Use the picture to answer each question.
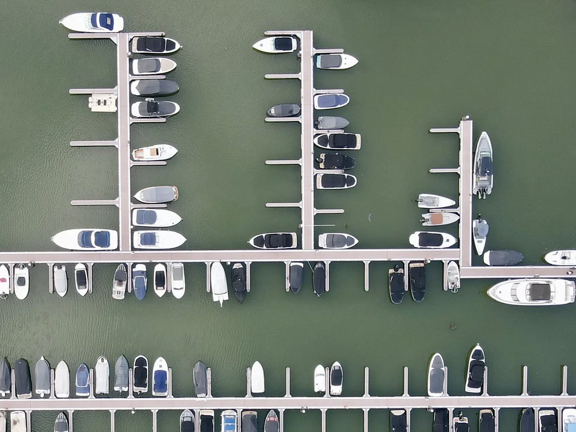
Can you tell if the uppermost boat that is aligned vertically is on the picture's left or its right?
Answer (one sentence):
The uppermost boat that is aligned vertically appears in the right half of the scene.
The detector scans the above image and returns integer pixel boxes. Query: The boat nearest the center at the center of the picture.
[247,233,298,249]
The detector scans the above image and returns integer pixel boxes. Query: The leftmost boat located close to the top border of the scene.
[58,10,125,33]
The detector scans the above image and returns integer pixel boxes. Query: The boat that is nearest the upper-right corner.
[474,132,493,204]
